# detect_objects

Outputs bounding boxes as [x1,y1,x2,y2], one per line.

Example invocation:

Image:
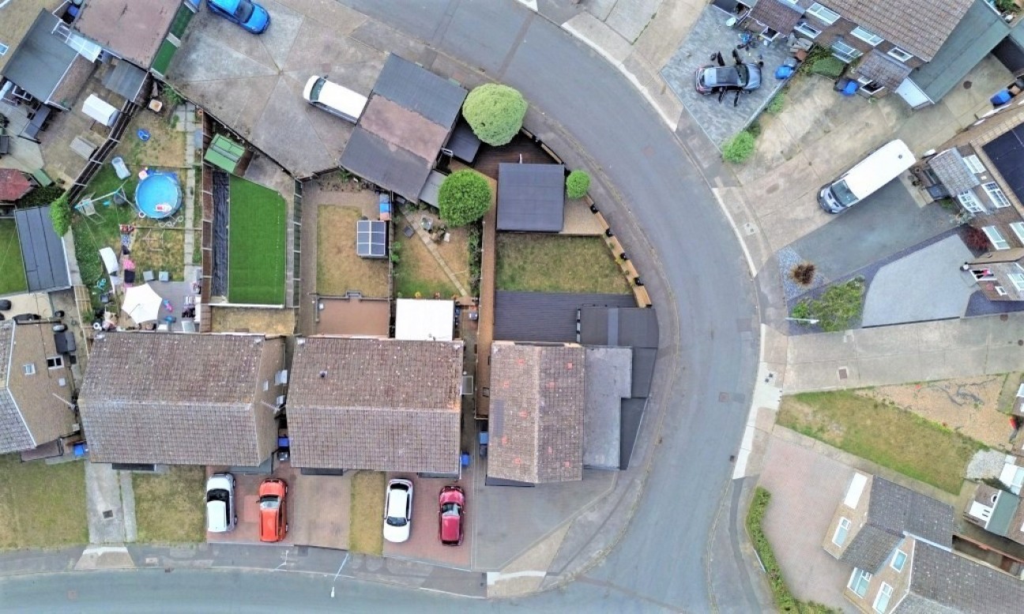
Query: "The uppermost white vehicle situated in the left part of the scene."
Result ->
[296,72,365,120]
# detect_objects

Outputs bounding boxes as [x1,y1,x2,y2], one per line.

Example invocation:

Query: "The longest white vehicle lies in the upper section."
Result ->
[815,139,917,217]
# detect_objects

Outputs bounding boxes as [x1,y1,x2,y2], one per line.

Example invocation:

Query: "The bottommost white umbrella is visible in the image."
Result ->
[122,283,162,324]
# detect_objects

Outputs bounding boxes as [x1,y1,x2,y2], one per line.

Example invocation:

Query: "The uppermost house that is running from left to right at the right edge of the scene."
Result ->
[740,0,974,101]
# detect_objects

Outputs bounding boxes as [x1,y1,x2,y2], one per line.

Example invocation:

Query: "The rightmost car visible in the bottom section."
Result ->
[436,486,467,549]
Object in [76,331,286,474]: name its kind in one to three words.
house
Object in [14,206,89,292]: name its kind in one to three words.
shed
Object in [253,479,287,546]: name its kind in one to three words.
car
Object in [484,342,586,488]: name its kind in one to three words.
house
